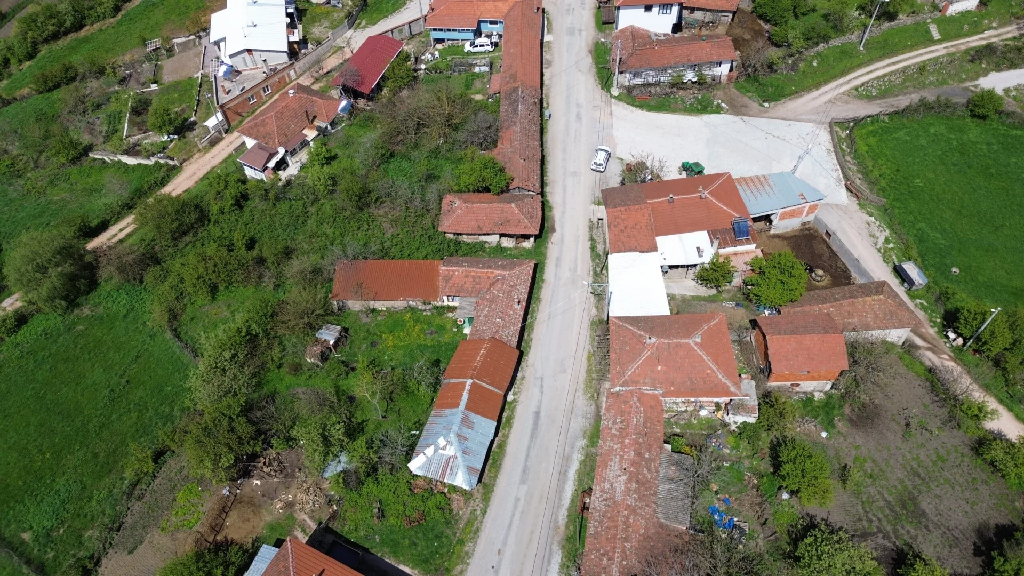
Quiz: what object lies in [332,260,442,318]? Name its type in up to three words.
shed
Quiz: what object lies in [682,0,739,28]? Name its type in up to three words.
barn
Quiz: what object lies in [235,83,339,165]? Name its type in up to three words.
house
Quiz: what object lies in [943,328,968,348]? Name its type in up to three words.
work vehicle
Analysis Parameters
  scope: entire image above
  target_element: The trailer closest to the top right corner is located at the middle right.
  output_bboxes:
[896,257,939,292]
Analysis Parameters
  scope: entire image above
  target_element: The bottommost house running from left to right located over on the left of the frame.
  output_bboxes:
[260,529,363,576]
